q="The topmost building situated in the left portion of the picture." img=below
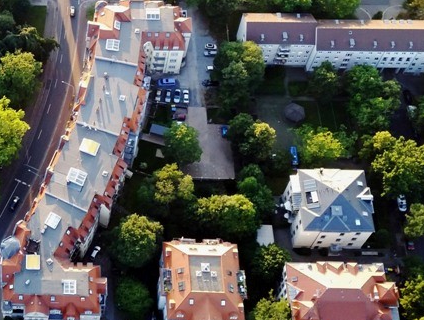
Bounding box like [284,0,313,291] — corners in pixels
[78,0,195,92]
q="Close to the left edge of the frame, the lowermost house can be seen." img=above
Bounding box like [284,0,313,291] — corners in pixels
[0,235,104,320]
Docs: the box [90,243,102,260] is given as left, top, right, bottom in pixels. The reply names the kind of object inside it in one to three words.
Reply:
vehicle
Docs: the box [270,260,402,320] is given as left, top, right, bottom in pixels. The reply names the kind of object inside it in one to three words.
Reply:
house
